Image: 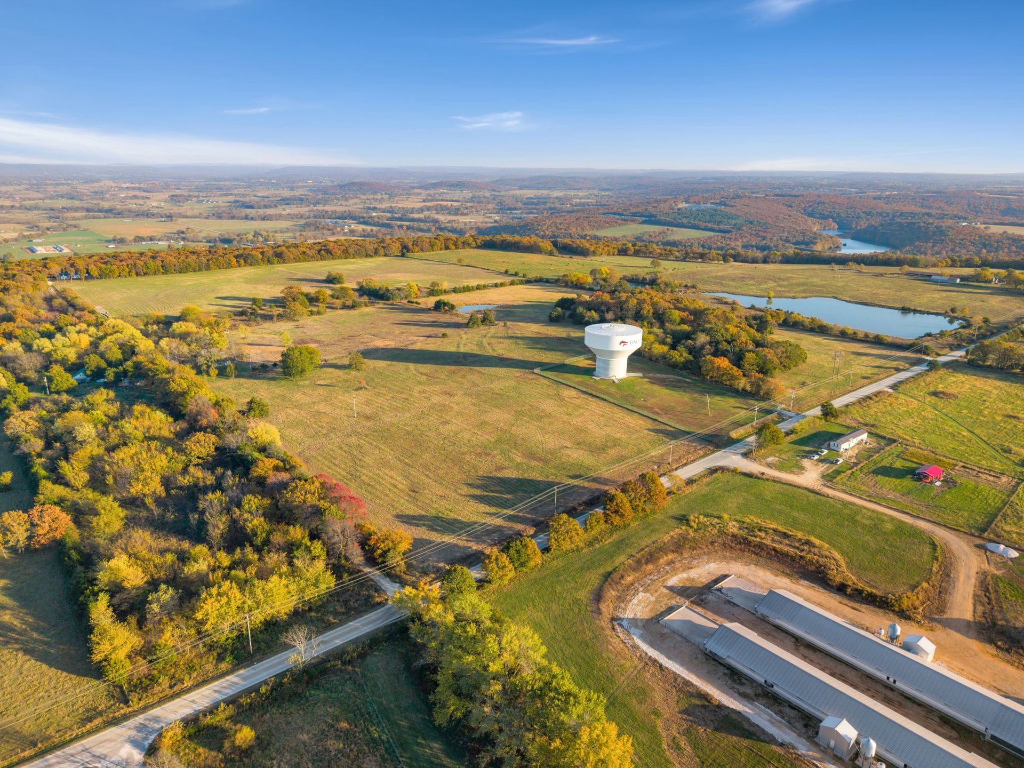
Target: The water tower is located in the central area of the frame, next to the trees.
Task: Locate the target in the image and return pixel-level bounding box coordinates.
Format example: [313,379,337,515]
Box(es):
[584,326,641,380]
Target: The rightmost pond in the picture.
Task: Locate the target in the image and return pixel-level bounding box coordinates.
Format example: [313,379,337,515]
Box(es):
[707,293,957,339]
